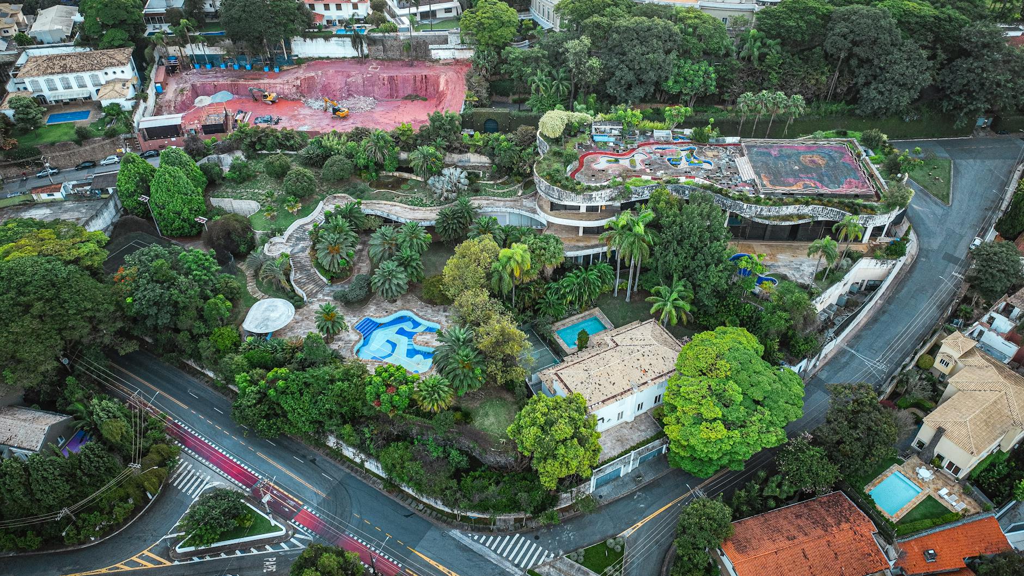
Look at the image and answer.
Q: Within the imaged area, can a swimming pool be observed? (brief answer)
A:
Yes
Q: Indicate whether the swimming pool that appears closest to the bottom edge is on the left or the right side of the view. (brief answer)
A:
right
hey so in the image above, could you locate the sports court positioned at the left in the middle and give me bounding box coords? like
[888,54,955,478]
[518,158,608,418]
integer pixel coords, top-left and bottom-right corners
[101,231,239,311]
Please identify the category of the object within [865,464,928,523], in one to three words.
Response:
swimming pool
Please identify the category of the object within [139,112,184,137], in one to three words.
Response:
shed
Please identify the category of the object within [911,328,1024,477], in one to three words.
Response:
house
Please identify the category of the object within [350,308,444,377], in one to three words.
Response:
swimming pool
